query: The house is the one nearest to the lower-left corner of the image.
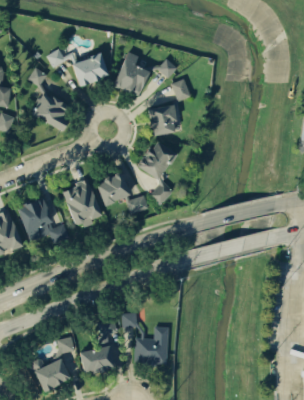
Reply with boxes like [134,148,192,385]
[34,358,72,394]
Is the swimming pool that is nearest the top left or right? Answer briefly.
left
